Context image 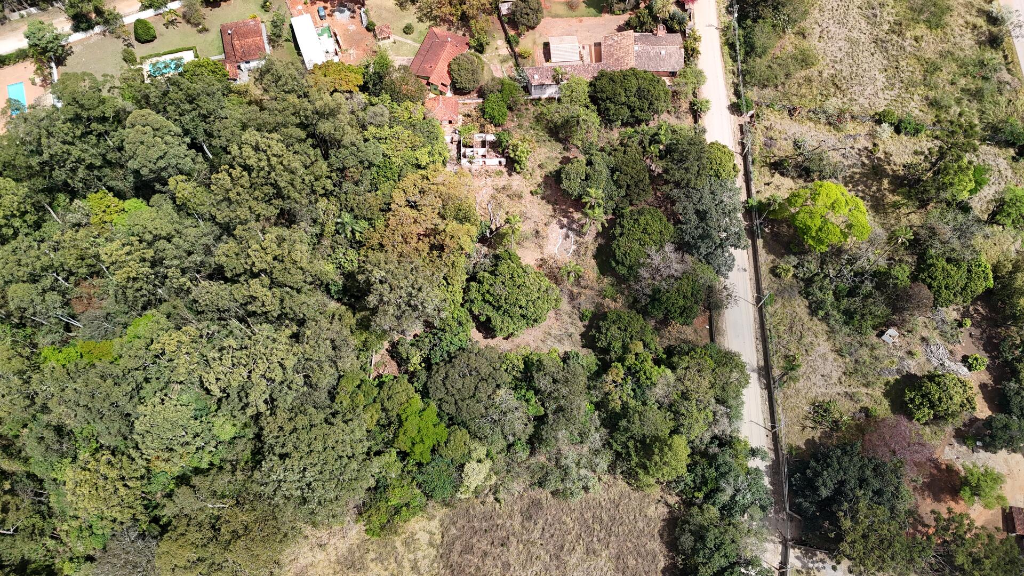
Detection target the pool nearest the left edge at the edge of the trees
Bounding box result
[8,82,26,114]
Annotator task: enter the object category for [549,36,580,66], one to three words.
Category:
shed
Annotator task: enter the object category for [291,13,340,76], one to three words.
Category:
building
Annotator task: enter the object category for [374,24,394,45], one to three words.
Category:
gazebo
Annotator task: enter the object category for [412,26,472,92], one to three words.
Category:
house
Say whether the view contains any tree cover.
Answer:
Yes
